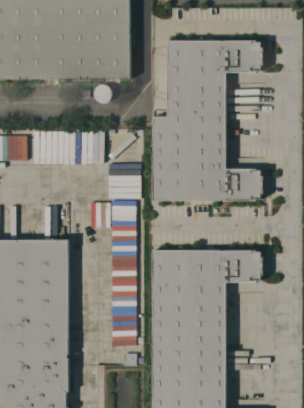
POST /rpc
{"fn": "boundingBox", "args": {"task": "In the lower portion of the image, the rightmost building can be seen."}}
[152,248,262,408]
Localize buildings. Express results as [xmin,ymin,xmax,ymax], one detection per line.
[152,248,262,408]
[152,40,262,200]
[0,238,71,408]
[125,352,138,366]
[0,0,134,80]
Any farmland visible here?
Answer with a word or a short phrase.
No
